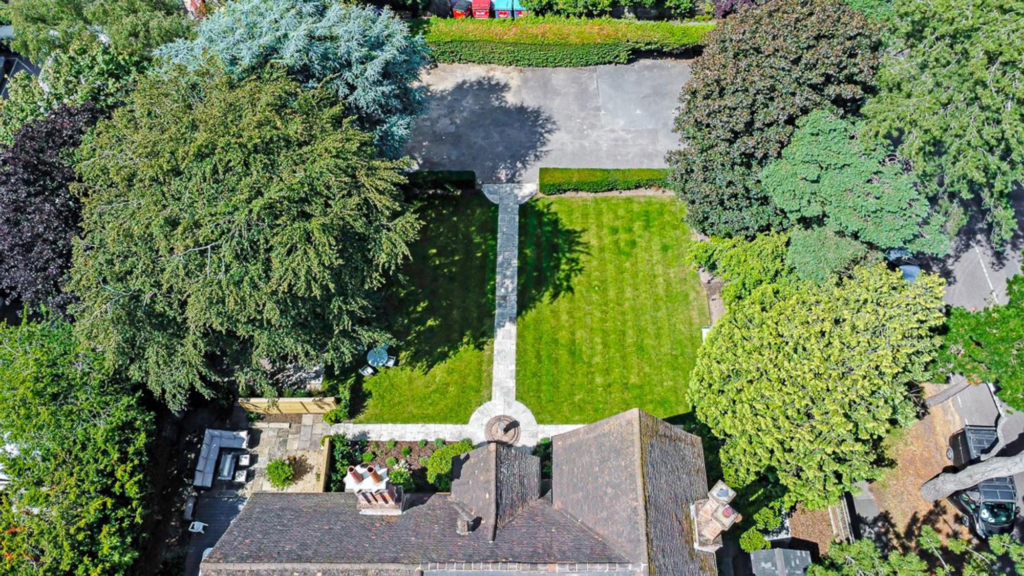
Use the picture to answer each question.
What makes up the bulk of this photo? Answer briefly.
trees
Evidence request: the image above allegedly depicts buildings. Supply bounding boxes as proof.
[200,407,739,576]
[733,548,809,576]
